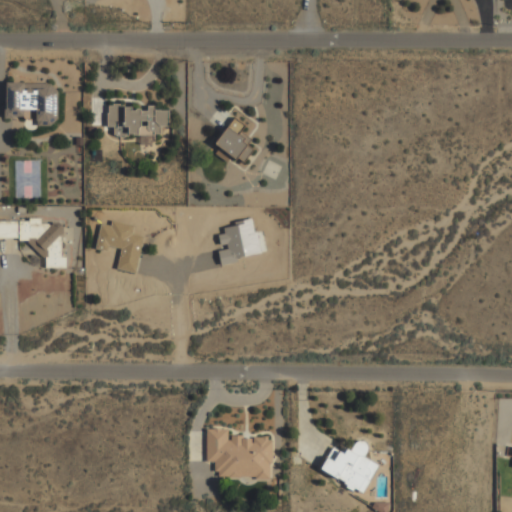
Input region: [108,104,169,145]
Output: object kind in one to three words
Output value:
house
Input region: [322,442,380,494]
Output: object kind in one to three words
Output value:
house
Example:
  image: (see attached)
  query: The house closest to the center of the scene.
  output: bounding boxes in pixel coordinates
[218,218,267,266]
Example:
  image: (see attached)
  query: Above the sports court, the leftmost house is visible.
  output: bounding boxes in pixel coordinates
[4,82,58,130]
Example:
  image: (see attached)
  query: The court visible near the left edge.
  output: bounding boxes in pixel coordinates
[10,158,47,202]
